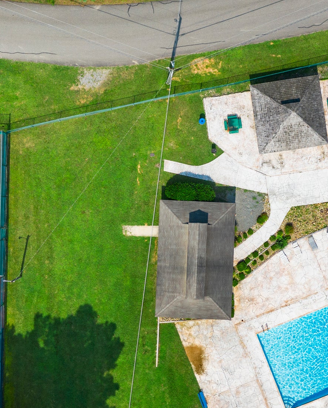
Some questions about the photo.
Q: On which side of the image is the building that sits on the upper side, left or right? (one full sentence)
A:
The building that sits on the upper side is on the right side of the image.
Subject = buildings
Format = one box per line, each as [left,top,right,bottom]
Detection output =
[249,74,328,154]
[155,199,237,321]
